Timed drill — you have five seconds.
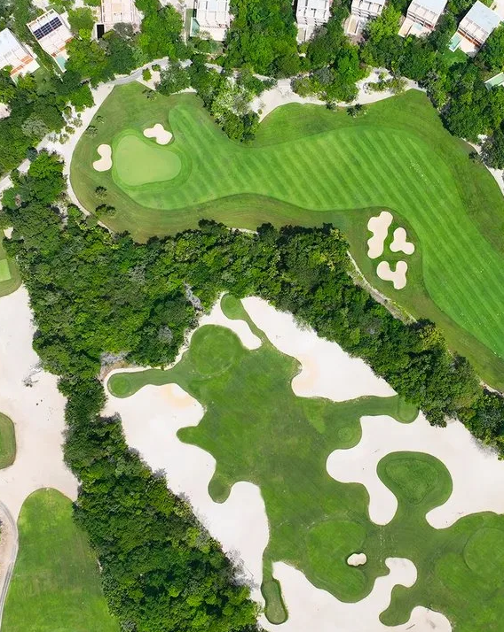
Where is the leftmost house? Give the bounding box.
[0,26,41,80]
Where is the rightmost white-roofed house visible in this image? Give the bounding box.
[456,1,501,55]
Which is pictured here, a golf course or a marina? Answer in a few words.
golf course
